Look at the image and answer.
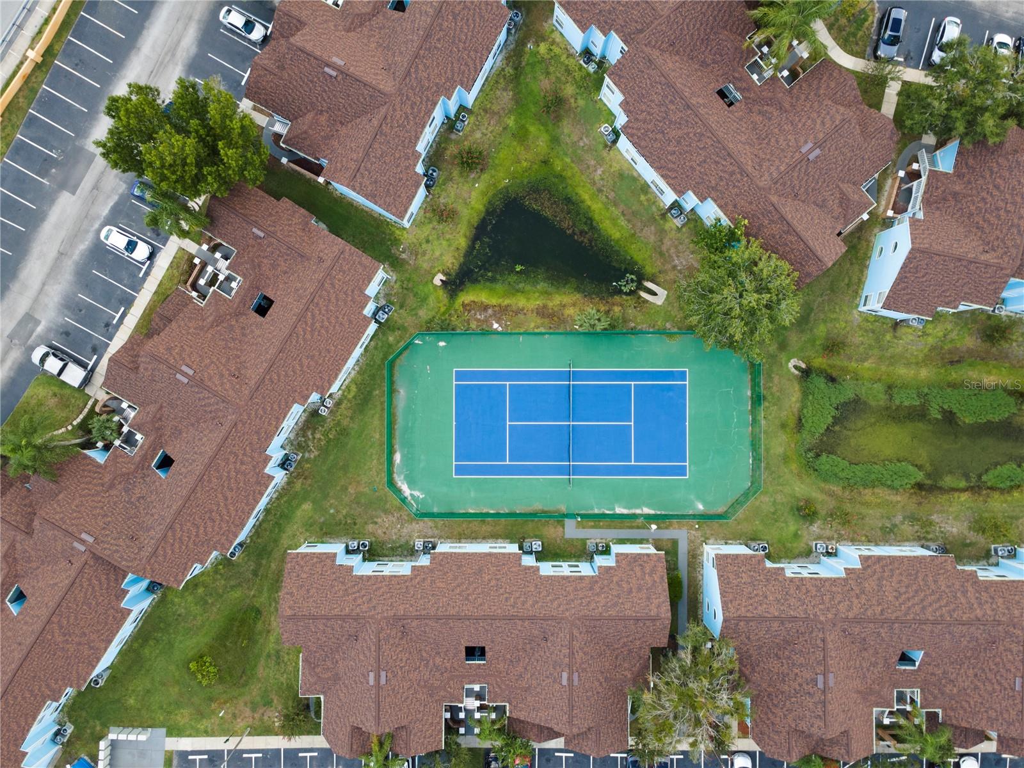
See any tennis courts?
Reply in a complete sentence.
Yes, a tennis court can be made out from above.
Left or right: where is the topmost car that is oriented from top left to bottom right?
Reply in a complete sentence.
The topmost car that is oriented from top left to bottom right is on the left side of the image.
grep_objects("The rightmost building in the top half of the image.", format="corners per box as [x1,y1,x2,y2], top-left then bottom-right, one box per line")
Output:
[861,110,1024,321]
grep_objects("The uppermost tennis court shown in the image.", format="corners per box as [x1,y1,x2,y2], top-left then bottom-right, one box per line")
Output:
[391,334,752,514]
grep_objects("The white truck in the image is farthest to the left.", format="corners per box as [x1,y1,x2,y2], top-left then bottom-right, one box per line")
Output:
[30,348,96,390]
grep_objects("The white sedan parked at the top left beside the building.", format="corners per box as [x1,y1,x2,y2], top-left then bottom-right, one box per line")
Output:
[216,4,269,45]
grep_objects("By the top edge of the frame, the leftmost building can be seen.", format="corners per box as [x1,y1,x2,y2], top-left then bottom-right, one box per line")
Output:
[245,0,528,229]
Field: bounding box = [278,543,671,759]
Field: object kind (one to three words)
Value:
building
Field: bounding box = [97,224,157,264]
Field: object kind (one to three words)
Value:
car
